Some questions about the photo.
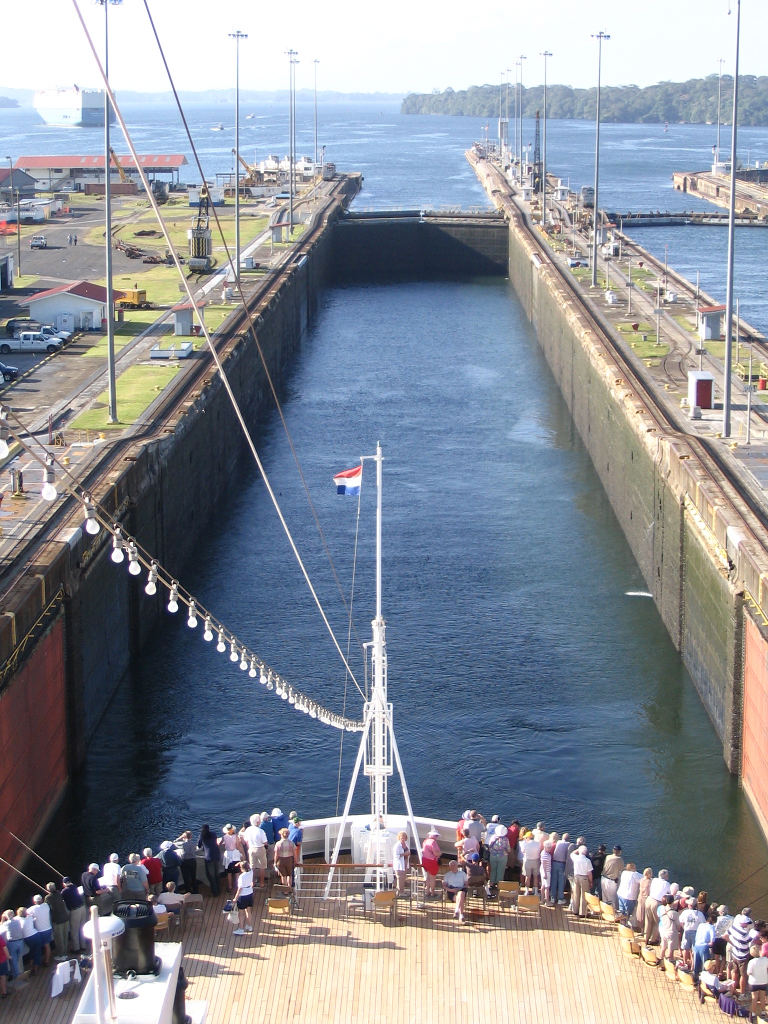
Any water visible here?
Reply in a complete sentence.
Yes, there's water in this view.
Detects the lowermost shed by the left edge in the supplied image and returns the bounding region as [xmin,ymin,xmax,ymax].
[18,284,126,332]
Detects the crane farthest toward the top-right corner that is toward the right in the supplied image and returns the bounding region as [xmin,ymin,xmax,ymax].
[529,113,543,193]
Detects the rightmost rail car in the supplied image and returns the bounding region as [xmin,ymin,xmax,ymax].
[581,186,594,207]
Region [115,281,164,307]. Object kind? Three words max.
trailer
